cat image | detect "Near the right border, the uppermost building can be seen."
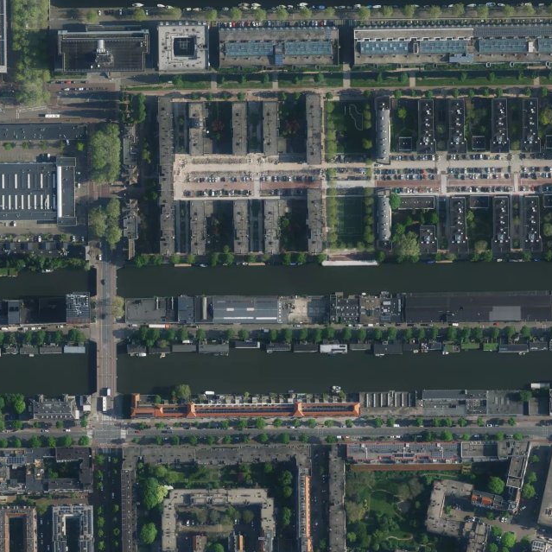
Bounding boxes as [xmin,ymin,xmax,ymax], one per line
[354,26,552,67]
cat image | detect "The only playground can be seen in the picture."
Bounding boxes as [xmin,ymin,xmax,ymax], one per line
[326,100,375,154]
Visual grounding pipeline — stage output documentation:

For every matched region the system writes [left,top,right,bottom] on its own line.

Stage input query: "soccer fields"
[336,197,372,246]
